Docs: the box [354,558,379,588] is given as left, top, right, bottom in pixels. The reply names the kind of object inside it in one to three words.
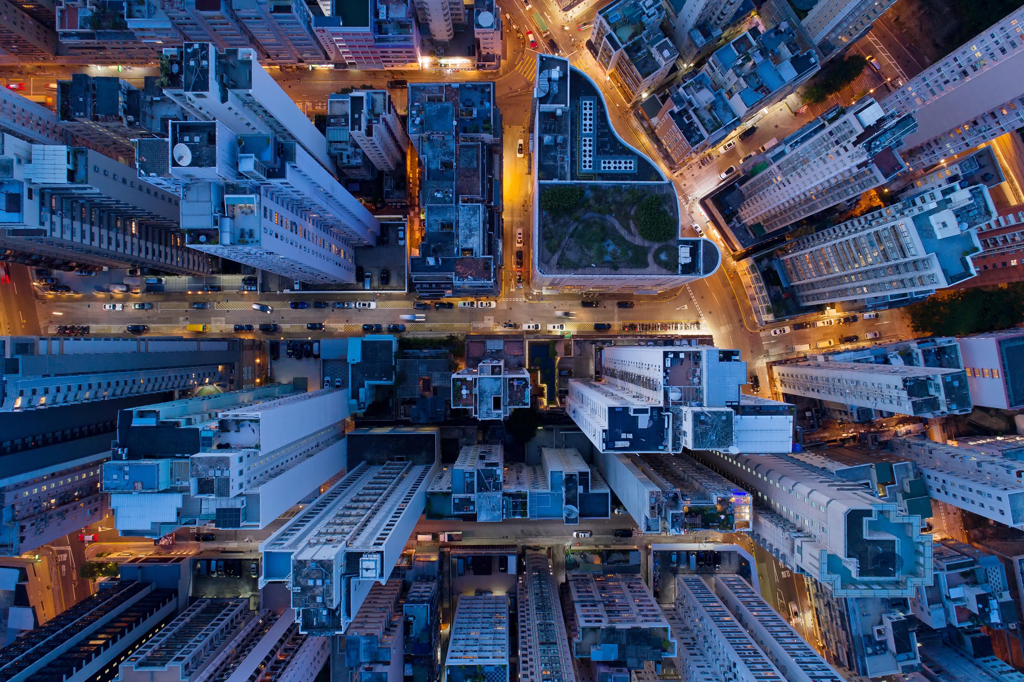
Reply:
water tank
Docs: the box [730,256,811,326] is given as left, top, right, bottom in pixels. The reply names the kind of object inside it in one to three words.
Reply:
building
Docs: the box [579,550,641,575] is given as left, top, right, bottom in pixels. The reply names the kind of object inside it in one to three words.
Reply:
shed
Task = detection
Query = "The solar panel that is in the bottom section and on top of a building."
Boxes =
[215,508,240,528]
